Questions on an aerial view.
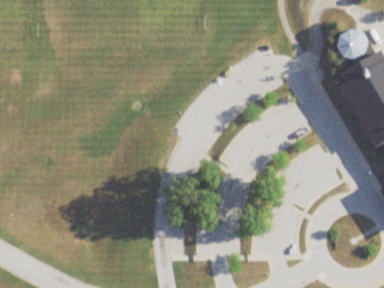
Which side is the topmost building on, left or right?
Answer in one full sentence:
The topmost building sits on the right side.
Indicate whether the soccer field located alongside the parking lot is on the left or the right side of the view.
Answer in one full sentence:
You can find the soccer field located alongside the parking lot on the left side of the picture.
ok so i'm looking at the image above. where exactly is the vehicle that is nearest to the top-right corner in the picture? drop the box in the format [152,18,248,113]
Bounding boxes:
[369,26,382,44]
